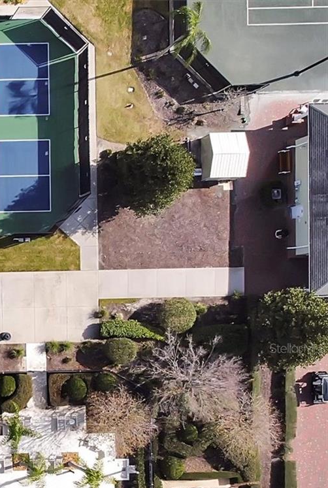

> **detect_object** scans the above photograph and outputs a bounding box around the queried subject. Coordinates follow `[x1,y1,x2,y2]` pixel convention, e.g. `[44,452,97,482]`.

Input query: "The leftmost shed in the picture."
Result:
[200,132,249,177]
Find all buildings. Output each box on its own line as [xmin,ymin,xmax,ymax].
[200,132,249,177]
[289,102,328,296]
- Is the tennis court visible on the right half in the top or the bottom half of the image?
top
